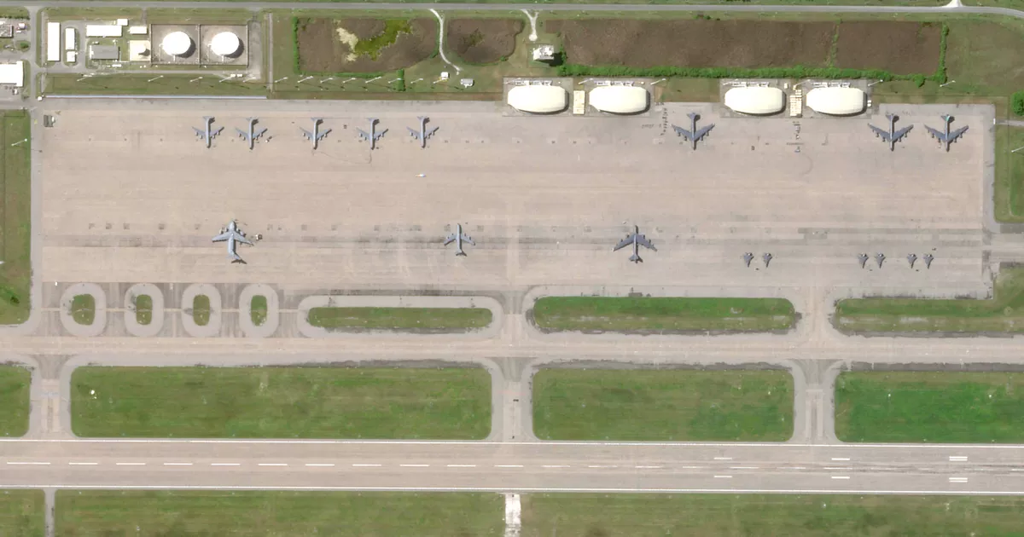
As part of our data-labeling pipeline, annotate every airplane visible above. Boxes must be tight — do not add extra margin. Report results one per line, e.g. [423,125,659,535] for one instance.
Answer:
[193,116,224,148]
[300,117,331,149]
[875,254,885,267]
[743,253,753,266]
[214,222,253,261]
[672,112,716,150]
[923,254,934,269]
[926,114,969,152]
[870,113,914,151]
[907,254,917,269]
[614,226,658,263]
[407,115,438,148]
[236,117,267,149]
[357,117,388,149]
[858,254,868,267]
[762,252,772,267]
[444,223,475,256]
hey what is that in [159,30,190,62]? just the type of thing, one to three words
storage tank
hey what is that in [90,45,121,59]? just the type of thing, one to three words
building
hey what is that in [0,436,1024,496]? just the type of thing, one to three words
runway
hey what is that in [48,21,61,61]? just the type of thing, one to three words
building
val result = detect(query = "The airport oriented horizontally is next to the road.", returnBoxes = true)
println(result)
[0,100,1024,496]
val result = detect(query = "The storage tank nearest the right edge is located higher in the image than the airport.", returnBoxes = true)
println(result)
[207,30,239,62]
